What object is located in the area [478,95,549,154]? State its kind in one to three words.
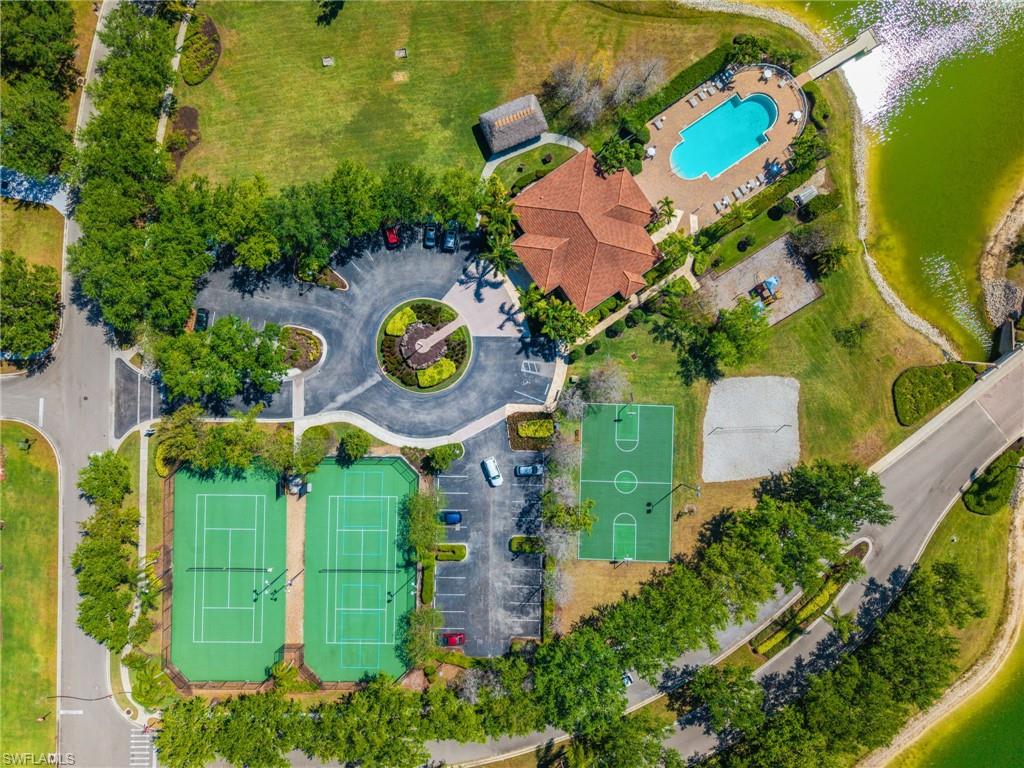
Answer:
shed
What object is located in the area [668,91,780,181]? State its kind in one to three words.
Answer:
swimming pool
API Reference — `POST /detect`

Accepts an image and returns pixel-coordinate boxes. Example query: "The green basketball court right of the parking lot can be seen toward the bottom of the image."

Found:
[578,404,675,562]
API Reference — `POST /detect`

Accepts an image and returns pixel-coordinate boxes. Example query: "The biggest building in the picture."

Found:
[512,149,662,311]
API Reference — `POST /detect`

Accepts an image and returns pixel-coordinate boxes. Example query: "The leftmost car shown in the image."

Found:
[194,306,210,334]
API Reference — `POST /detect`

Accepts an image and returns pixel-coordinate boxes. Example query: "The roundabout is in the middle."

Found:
[377,298,472,393]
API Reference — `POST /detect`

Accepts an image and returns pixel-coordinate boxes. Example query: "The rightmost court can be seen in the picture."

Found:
[702,376,800,483]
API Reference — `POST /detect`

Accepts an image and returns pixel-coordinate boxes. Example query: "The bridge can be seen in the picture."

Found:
[959,323,1024,391]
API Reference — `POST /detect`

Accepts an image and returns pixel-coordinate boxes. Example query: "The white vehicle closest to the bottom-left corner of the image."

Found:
[483,456,502,486]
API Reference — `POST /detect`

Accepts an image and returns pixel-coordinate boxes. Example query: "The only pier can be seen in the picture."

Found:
[794,27,881,88]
